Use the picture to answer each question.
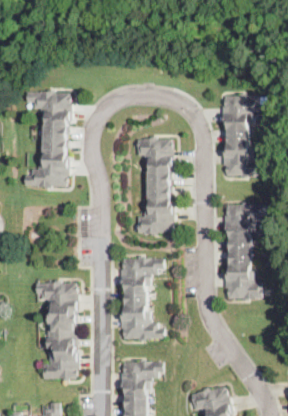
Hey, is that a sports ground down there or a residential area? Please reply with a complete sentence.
It's a residential area.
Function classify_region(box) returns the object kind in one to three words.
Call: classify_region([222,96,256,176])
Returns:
house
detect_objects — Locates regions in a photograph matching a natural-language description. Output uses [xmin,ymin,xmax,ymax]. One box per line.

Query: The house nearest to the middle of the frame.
[136,138,176,235]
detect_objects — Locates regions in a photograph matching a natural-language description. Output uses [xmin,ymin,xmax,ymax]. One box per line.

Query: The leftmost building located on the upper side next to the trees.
[24,92,74,188]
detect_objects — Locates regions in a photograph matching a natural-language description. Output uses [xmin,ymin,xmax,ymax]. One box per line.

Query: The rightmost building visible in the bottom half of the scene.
[224,204,266,299]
